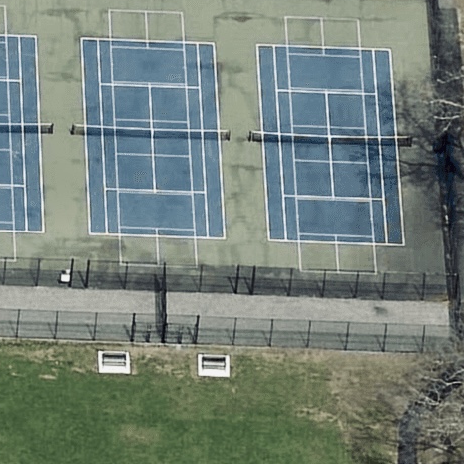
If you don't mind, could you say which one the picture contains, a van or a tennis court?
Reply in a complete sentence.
Looking from above, you can make out a tennis court.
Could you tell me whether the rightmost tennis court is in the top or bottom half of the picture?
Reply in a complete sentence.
The rightmost tennis court is in the top half of the image.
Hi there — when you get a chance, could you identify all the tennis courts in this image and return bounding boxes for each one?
[258,16,405,276]
[81,10,226,269]
[0,6,45,263]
